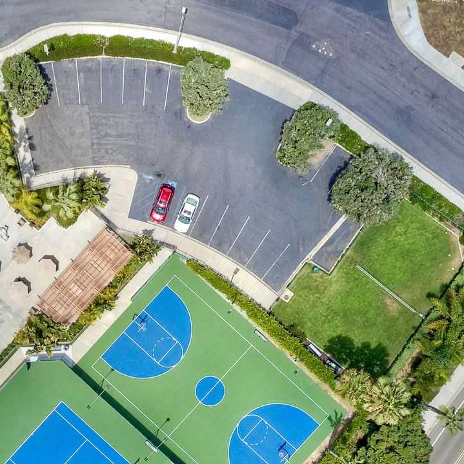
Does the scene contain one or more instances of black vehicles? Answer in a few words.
No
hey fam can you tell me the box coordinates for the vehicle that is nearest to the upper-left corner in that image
[150,182,175,223]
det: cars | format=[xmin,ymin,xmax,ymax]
[175,193,200,234]
[150,182,175,223]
